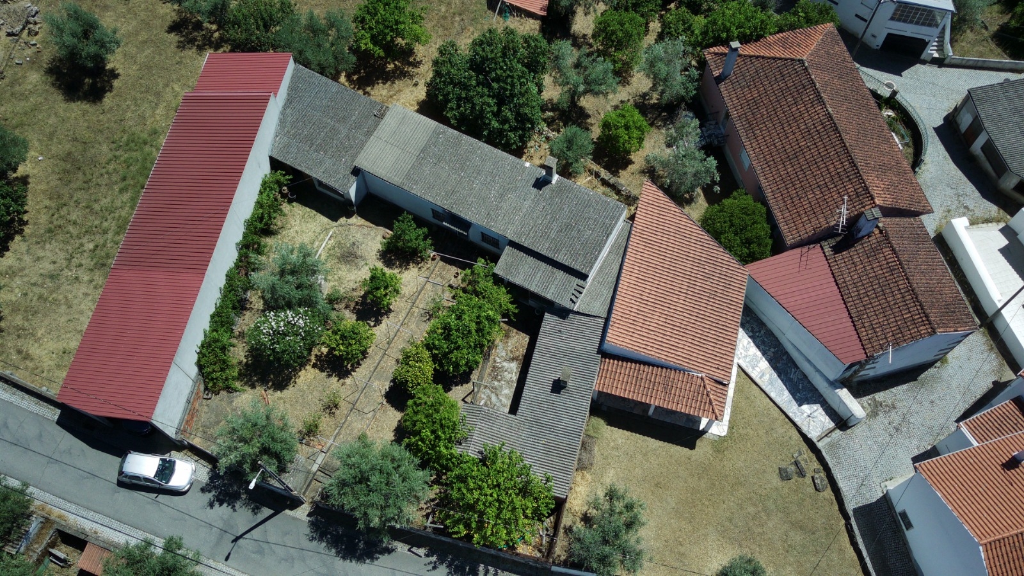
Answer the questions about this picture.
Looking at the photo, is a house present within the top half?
Yes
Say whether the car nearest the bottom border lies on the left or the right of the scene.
left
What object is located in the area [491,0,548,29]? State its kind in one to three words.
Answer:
shed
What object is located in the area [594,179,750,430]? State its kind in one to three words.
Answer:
house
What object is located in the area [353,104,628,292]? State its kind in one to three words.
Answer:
house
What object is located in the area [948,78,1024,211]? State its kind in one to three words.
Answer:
barn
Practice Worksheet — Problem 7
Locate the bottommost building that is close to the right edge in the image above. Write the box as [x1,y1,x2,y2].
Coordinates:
[885,428,1024,576]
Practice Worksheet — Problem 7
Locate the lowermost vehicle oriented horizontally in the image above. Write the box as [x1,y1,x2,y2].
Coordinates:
[117,456,199,495]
